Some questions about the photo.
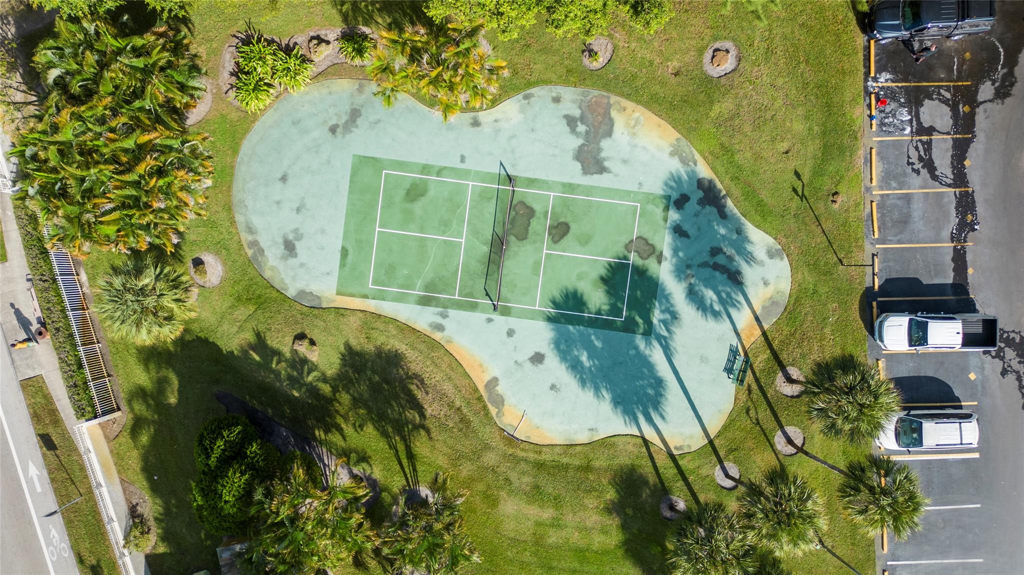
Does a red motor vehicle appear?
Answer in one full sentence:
No, there appears to be no red motor vehicle in this shot.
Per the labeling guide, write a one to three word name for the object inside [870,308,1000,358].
truck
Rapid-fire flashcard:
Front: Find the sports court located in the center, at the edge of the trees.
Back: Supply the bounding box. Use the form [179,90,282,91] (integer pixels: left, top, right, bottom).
[232,78,791,454]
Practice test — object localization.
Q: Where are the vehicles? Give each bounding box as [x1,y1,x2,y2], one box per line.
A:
[863,0,996,41]
[870,308,1000,358]
[869,407,979,456]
